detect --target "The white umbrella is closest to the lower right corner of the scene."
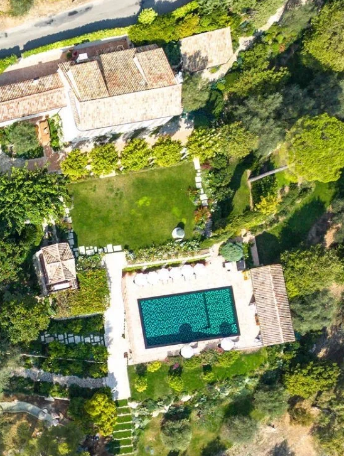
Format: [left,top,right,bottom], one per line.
[217,337,234,352]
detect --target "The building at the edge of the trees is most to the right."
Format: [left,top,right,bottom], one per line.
[243,264,296,345]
